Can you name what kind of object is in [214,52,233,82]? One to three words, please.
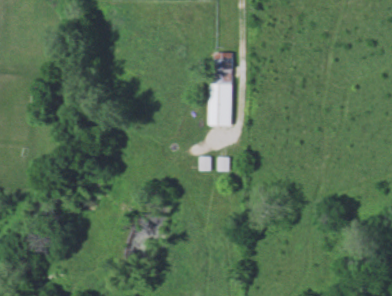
barn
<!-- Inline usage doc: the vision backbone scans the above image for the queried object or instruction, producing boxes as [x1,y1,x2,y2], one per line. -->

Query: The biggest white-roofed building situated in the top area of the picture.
[207,83,232,127]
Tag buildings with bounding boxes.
[216,156,230,172]
[128,220,160,254]
[198,156,212,172]
[214,52,233,82]
[207,83,232,127]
